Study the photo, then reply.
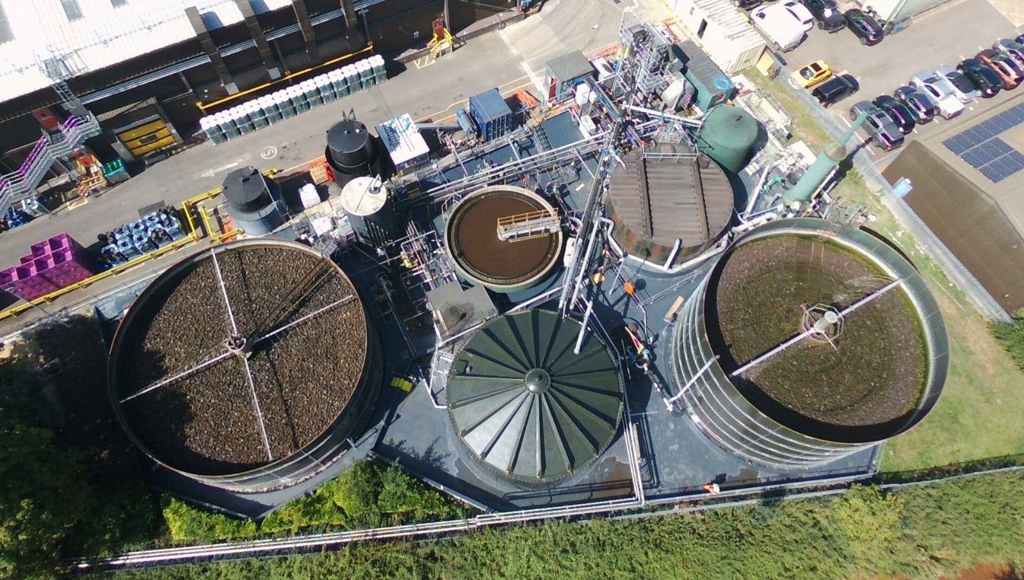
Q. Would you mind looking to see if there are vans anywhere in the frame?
Yes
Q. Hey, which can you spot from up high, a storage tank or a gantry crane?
storage tank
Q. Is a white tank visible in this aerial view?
Yes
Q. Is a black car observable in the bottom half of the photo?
No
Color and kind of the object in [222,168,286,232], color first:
gray storage tank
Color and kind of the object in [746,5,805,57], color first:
white van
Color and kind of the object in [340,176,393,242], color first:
white storage tank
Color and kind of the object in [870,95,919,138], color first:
black car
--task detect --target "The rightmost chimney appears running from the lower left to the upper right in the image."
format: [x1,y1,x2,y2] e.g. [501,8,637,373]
[783,104,869,210]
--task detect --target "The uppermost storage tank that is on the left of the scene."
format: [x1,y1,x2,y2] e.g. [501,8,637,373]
[323,113,386,187]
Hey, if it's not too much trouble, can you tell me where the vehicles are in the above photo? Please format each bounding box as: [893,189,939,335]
[844,10,888,50]
[789,58,835,92]
[808,73,860,109]
[910,72,966,121]
[731,0,765,16]
[980,50,1024,90]
[781,3,822,44]
[957,58,1007,100]
[857,106,906,153]
[893,87,939,127]
[803,0,852,37]
[870,95,919,138]
[746,5,805,57]
[935,69,983,110]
